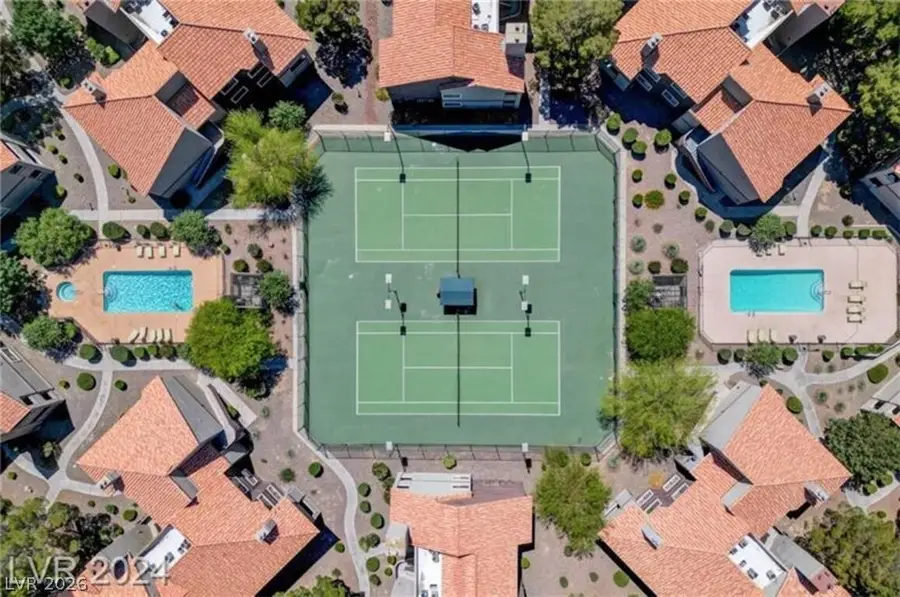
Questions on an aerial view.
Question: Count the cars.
0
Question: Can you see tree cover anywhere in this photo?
Yes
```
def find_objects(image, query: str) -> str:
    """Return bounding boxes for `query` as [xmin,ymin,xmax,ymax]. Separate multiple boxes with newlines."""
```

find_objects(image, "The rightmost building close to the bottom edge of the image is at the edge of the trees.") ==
[595,382,855,597]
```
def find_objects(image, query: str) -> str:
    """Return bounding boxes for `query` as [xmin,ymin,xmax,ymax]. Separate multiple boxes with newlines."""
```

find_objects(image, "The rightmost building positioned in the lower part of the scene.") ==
[861,375,900,429]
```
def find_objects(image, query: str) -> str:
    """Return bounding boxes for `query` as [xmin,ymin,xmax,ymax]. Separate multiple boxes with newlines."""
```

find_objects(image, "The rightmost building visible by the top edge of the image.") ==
[595,0,856,205]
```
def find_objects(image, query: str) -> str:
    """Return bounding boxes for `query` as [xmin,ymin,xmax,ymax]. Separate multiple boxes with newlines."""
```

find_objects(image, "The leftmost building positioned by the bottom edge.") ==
[76,375,323,597]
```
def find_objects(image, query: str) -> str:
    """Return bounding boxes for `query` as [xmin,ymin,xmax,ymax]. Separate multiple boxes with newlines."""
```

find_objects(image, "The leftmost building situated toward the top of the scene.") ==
[0,118,54,223]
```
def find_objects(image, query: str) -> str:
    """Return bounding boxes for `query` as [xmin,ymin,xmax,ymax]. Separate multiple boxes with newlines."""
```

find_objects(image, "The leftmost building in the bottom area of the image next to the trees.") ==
[0,336,65,468]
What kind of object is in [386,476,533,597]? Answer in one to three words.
building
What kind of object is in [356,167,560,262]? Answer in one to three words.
tennis court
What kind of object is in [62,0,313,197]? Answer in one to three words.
building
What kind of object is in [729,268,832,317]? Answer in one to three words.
swimming pool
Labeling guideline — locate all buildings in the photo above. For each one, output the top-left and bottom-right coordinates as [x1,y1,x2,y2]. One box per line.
[863,141,900,218]
[595,0,856,205]
[0,336,65,468]
[379,0,528,105]
[0,118,54,223]
[861,375,900,429]
[76,375,323,597]
[595,382,855,597]
[62,0,313,197]
[386,476,533,597]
